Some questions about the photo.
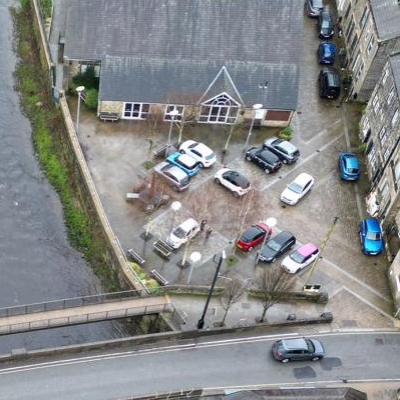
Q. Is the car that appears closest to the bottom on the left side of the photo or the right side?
right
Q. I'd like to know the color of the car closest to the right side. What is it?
blue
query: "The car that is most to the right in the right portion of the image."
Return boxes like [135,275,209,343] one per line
[358,213,389,252]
